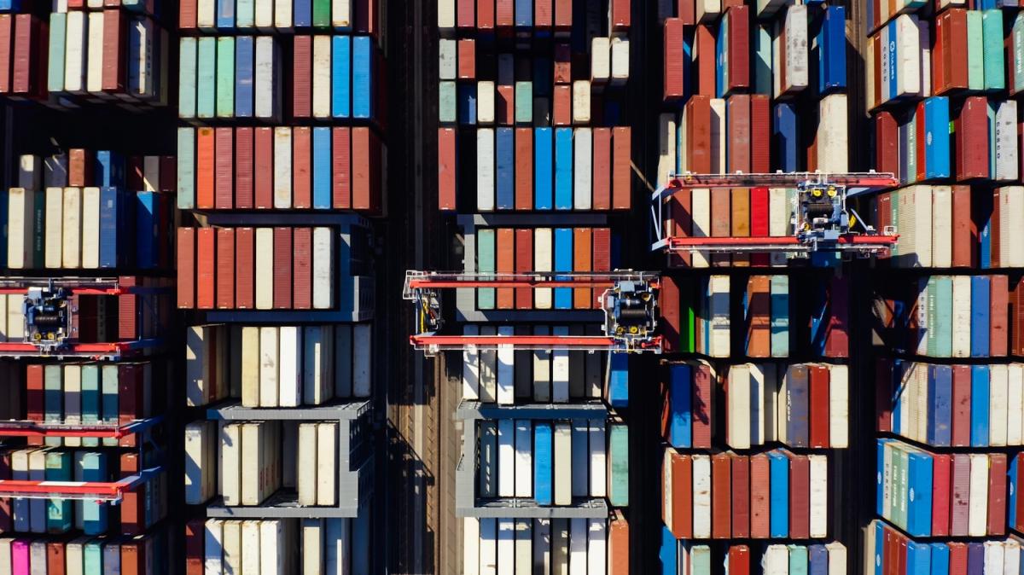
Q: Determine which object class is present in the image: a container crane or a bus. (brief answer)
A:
container crane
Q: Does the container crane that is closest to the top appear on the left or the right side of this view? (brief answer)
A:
right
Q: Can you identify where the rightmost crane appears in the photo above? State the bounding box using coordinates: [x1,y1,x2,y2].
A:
[642,168,900,264]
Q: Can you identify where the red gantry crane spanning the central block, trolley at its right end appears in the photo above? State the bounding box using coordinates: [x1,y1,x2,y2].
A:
[403,268,662,362]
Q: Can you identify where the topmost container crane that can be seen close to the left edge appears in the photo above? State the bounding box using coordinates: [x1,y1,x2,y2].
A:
[0,274,190,364]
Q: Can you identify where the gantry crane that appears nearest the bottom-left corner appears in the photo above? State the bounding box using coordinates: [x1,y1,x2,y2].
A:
[0,396,191,505]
